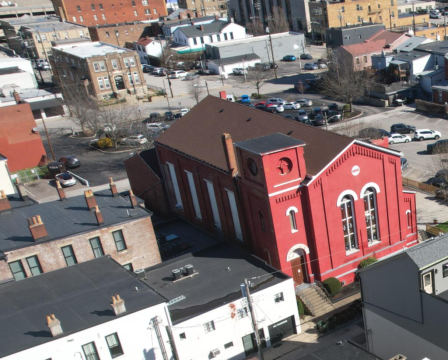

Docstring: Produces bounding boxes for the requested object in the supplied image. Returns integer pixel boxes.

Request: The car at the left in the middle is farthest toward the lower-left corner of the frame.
[54,172,79,188]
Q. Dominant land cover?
buildings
